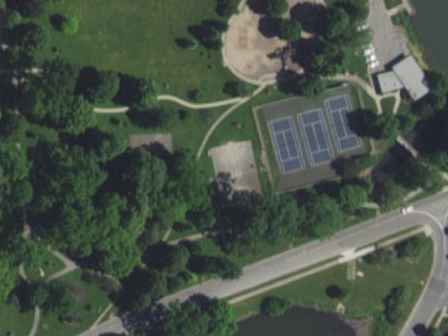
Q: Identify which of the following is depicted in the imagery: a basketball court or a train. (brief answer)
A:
basketball court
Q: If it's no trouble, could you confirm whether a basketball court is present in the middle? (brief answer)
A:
Yes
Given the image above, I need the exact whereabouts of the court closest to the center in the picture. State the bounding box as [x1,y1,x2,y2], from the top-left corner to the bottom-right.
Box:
[210,141,261,204]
